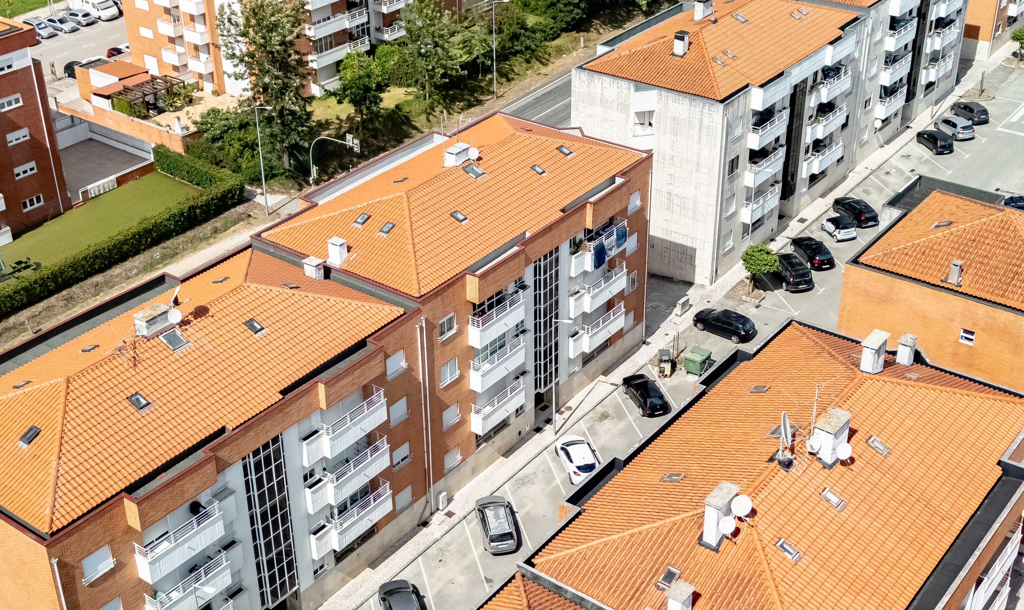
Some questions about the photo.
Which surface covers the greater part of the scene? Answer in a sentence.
What you mostly see from above here is buildings.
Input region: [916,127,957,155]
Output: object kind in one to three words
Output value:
car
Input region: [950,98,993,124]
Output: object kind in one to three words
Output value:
car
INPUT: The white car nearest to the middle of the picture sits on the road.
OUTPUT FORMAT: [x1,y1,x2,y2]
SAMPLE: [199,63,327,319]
[555,435,604,488]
